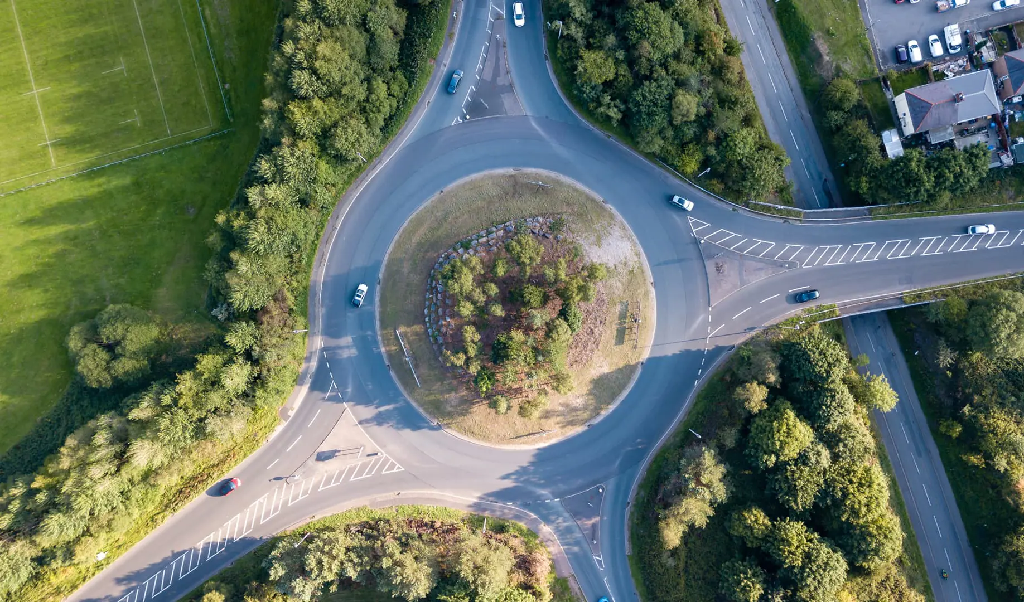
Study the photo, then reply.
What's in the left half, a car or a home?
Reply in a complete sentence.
The one visible in the left half is a car.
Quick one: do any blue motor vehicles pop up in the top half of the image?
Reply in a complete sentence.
Yes, you'll find a blue motor vehicle in the top half of the image.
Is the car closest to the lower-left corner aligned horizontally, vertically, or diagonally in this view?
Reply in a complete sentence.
I'd say the car closest to the lower-left corner is aligned diagonally in the picture.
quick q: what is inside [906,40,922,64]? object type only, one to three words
car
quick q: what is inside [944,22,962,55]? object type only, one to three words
vehicle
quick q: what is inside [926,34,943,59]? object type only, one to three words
car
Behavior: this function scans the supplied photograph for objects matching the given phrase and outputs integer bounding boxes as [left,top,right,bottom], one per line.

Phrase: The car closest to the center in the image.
[351,283,369,308]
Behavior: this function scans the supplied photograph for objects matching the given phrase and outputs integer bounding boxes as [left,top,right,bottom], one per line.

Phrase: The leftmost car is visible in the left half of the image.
[218,475,241,497]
